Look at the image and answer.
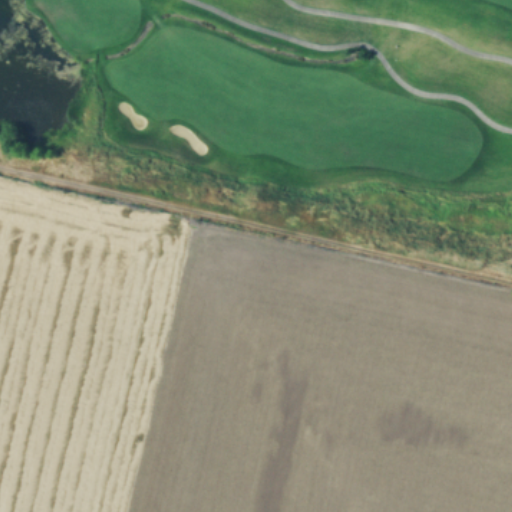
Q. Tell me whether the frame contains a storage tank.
No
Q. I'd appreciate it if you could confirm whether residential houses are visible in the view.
No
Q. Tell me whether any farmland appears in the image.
Yes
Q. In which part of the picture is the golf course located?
top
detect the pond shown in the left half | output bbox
[0,0,84,153]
